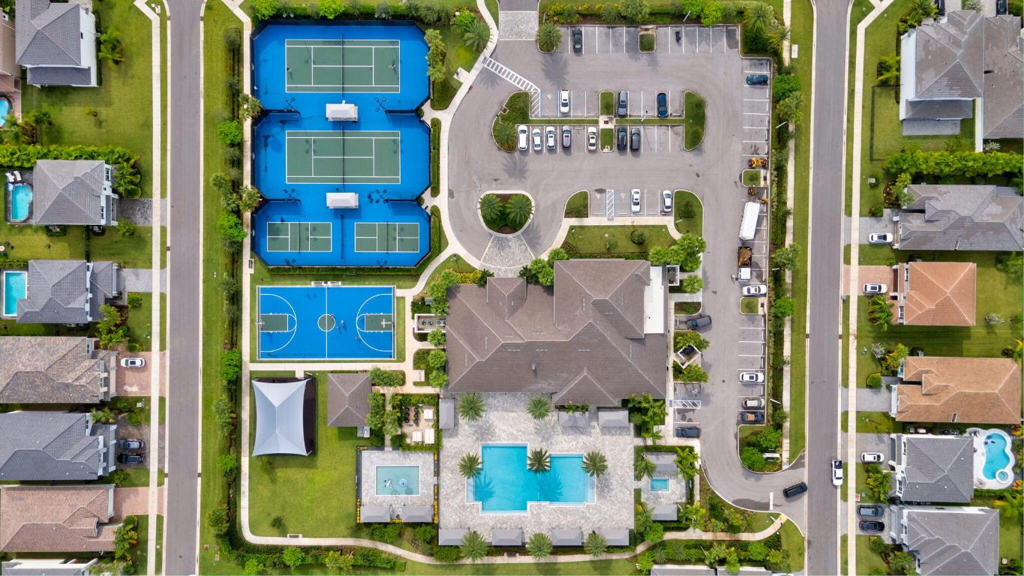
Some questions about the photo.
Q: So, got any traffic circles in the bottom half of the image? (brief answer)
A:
No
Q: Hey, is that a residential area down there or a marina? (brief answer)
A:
residential area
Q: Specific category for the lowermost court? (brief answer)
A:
basketball court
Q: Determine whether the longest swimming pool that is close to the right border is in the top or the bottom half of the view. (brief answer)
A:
bottom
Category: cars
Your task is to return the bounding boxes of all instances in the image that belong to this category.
[859,452,884,462]
[532,128,542,152]
[630,127,641,152]
[782,482,808,498]
[616,125,628,151]
[546,127,555,150]
[858,520,885,532]
[617,91,629,117]
[994,0,1009,16]
[741,398,765,409]
[933,0,947,16]
[657,93,668,119]
[687,315,713,329]
[739,372,765,383]
[862,283,887,294]
[559,90,570,116]
[867,233,893,244]
[630,188,642,213]
[517,125,529,151]
[739,412,764,423]
[745,74,769,85]
[571,28,583,53]
[741,285,767,296]
[120,438,146,450]
[118,452,145,464]
[675,426,700,437]
[121,357,147,368]
[662,189,673,213]
[561,125,572,149]
[587,126,598,151]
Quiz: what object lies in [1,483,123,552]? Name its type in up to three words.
house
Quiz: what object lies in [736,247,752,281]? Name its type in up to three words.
vehicle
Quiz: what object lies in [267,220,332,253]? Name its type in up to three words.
sports court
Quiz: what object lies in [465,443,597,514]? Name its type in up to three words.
swimming pool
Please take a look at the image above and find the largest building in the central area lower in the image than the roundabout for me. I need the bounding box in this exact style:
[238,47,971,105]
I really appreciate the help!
[446,260,667,405]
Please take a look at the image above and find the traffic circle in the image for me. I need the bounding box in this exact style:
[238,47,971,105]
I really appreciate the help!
[479,191,534,236]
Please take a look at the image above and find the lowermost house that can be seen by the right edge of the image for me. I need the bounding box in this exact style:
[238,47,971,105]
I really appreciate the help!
[885,500,999,576]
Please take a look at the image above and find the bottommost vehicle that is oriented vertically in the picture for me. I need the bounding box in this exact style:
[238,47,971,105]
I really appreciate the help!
[831,457,844,486]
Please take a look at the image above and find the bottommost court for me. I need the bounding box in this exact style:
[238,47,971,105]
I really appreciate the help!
[257,285,396,360]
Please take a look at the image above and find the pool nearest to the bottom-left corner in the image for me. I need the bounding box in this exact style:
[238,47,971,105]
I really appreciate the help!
[2,271,28,316]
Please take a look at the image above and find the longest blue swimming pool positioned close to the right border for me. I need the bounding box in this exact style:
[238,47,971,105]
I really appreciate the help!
[983,431,1010,481]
